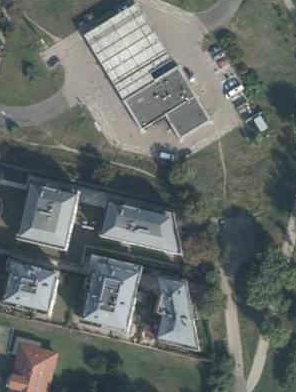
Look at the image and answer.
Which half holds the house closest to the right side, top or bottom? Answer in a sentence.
It is in the bottom half that the house closest to the right side appears.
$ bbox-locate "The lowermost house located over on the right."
[158,278,200,350]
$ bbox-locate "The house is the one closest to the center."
[99,202,181,256]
